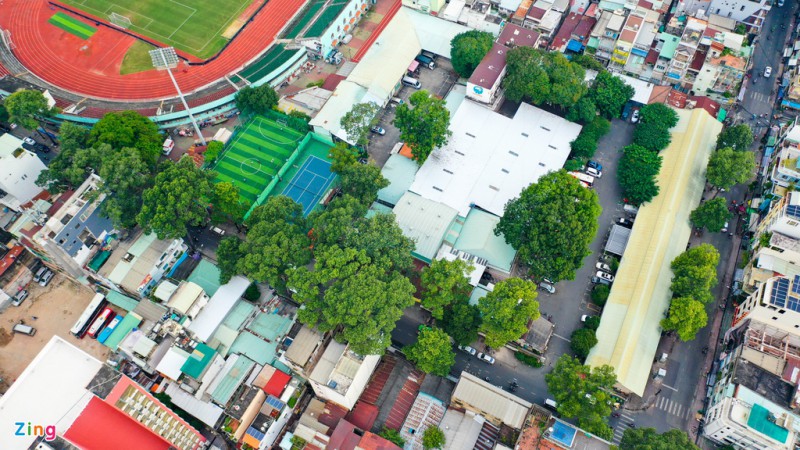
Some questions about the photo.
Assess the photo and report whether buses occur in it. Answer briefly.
Yes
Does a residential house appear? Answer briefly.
Yes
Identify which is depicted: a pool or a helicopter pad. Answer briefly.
pool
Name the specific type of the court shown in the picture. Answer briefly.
tennis court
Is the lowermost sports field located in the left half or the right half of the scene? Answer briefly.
left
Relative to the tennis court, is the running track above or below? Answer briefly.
above it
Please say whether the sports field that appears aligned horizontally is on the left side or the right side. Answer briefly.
left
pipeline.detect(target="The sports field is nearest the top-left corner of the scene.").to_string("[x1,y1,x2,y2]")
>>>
[71,0,262,75]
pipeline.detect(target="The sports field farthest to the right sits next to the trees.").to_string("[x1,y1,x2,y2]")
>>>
[195,116,309,215]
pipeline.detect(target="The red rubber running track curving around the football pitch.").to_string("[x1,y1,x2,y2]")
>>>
[3,0,308,100]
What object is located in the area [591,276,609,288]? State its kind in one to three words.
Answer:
vehicle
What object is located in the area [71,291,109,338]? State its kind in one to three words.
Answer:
bus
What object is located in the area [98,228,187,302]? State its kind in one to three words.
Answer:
house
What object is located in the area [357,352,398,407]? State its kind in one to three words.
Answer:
shed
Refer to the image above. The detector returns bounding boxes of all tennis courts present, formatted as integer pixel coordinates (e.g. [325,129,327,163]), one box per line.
[251,140,356,234]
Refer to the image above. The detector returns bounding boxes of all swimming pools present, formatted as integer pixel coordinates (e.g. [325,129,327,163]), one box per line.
[545,417,577,449]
